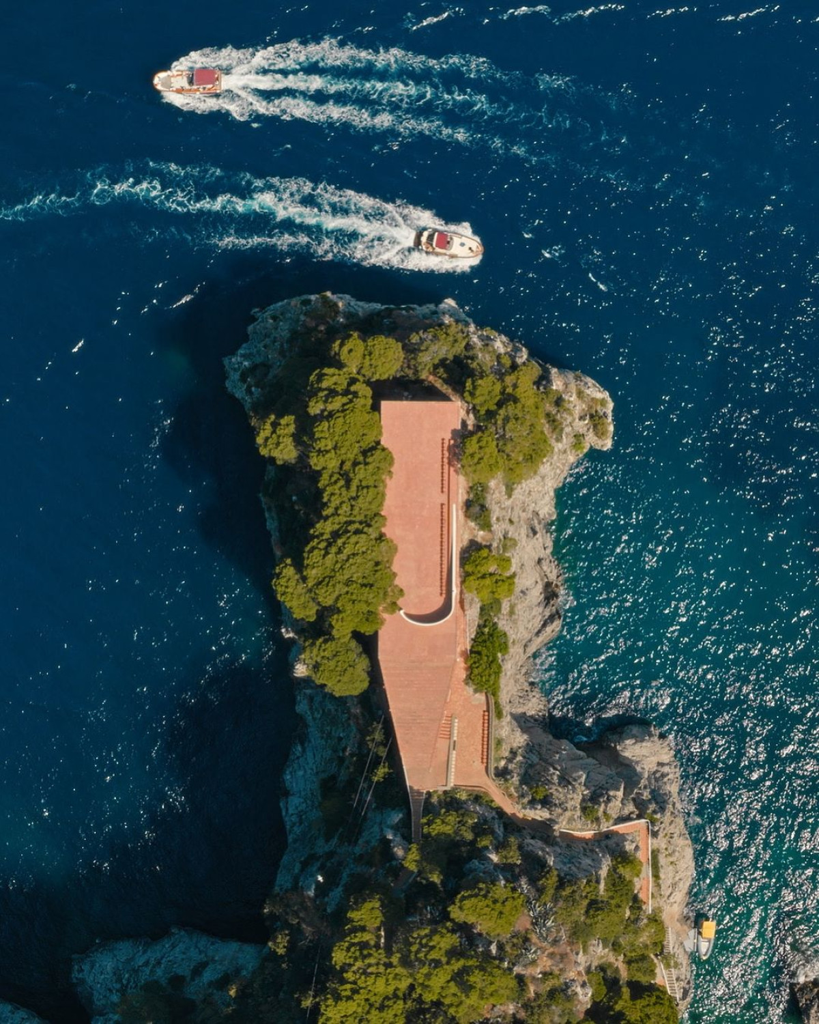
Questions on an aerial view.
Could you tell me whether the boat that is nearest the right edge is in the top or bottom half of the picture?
bottom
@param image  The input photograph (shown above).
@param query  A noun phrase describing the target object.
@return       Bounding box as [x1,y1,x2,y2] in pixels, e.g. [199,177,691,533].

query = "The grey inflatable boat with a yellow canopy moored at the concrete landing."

[697,913,718,963]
